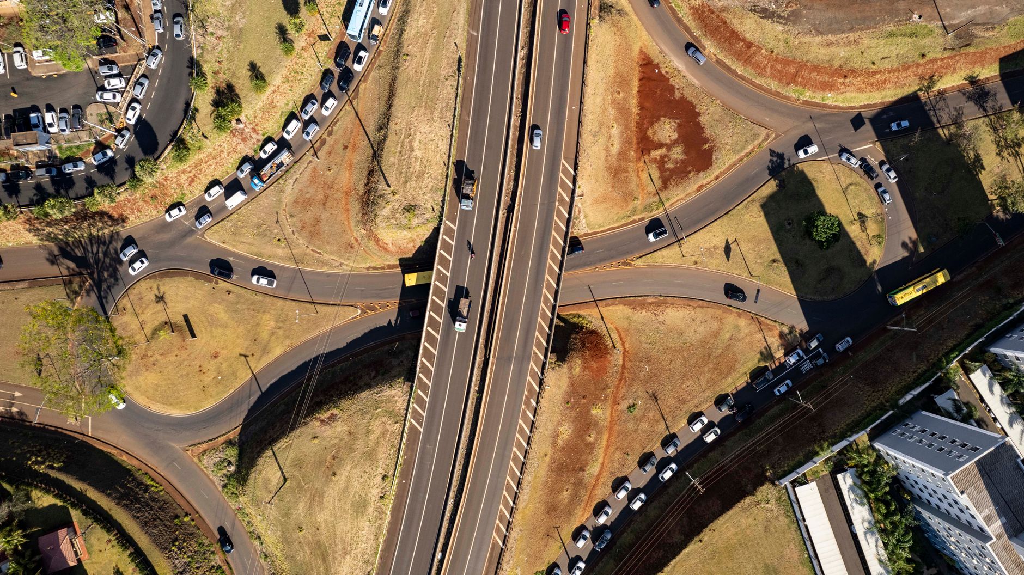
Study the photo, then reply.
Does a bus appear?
Yes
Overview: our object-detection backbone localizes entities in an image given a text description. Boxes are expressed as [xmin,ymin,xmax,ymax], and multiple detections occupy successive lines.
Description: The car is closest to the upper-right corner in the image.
[887,119,912,133]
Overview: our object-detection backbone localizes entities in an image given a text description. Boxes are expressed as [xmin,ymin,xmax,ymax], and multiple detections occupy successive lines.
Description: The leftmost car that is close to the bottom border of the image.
[218,533,235,554]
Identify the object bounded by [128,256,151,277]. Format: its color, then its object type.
white car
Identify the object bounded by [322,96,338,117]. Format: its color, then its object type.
white car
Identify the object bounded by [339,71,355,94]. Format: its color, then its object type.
black car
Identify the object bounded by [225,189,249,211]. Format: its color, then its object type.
white vehicle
